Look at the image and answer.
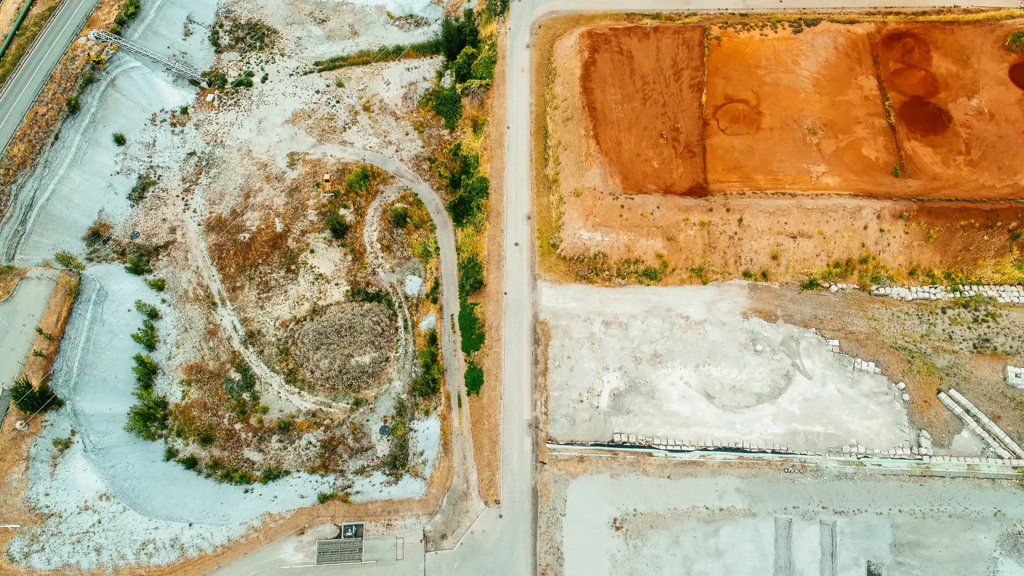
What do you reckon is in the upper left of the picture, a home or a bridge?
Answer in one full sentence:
What appears in the upper left of the picture is a bridge.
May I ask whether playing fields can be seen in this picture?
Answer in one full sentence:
No, no playing field is visible in the scene.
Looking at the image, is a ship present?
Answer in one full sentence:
No, the picture doesn't show any ship.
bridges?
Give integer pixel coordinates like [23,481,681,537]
[95,31,203,84]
